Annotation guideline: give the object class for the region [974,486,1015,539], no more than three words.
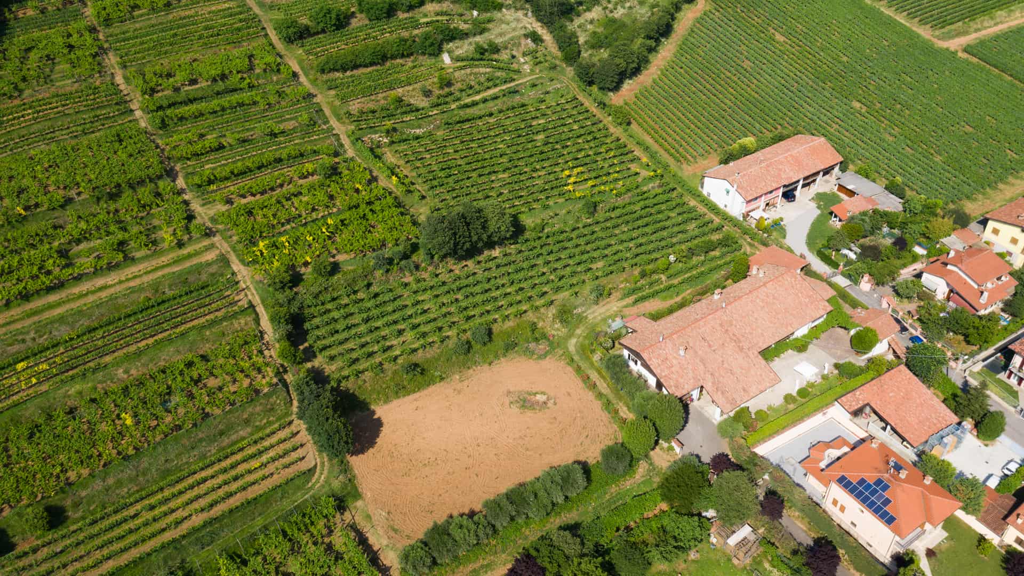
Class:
shed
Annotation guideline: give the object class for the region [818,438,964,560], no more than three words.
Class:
house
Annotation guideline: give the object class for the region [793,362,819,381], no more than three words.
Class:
umbrella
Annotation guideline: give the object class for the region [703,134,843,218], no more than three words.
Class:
house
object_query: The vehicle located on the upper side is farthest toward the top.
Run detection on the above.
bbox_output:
[781,190,801,202]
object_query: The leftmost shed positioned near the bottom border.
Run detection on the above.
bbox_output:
[721,522,762,574]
